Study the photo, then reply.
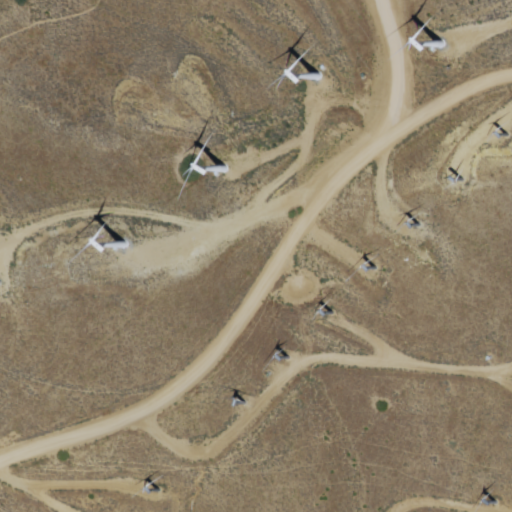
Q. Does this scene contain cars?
No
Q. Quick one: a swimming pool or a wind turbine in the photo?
wind turbine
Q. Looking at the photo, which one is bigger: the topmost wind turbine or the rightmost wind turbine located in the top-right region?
the topmost wind turbine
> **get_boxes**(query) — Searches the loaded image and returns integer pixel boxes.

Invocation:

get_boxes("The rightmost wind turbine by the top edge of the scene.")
[392,4,448,52]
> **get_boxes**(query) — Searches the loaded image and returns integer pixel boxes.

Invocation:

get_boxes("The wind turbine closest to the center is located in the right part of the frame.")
[308,292,335,320]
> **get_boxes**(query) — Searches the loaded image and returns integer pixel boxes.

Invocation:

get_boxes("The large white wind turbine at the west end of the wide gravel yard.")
[65,216,132,270]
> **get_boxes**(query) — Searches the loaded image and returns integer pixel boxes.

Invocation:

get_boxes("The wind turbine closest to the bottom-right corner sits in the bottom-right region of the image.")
[477,484,499,512]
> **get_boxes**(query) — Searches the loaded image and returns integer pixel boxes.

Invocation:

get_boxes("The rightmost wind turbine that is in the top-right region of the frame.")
[486,118,510,145]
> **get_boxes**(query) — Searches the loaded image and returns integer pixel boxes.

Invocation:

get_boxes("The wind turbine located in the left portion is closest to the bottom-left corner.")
[134,476,161,502]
